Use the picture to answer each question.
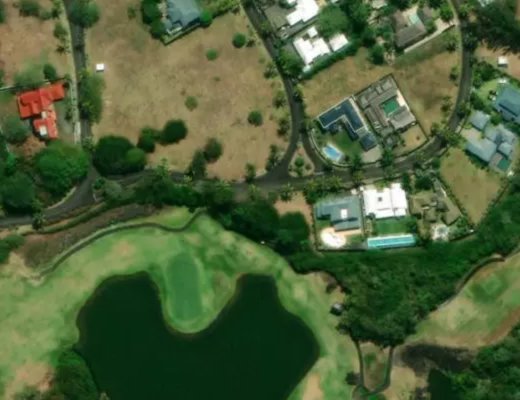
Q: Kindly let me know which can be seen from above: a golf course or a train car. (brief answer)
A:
golf course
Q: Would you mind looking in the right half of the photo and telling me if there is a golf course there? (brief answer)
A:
Yes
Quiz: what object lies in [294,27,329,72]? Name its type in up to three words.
house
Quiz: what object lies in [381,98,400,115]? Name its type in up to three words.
swimming pool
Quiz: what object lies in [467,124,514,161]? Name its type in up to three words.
house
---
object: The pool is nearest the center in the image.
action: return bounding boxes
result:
[320,142,344,162]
